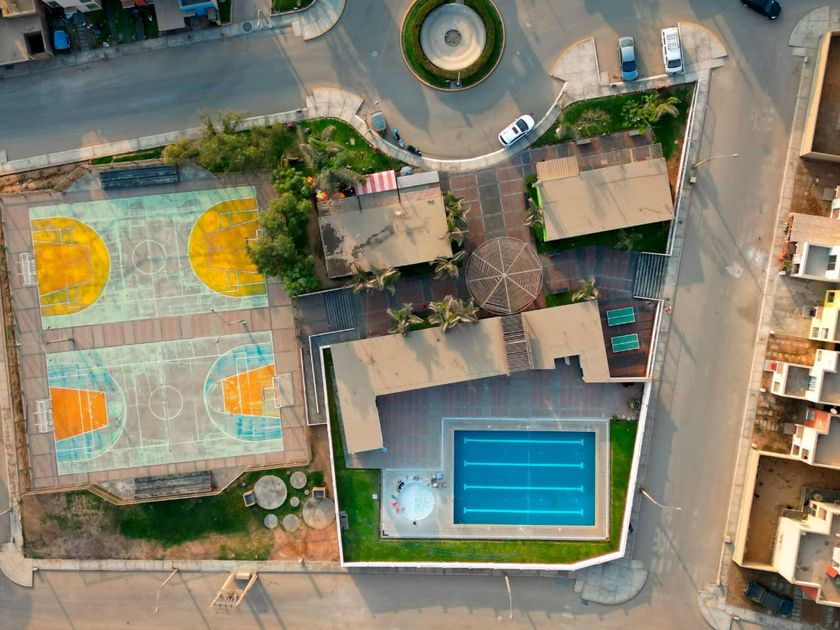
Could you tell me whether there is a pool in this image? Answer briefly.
Yes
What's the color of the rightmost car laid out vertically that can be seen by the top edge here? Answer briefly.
white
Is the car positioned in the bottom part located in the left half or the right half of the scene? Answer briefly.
right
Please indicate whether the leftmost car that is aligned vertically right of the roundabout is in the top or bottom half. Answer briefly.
top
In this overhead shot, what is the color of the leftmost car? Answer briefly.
blue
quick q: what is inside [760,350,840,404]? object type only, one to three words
house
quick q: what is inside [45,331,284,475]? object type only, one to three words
sports court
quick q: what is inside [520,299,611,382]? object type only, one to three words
building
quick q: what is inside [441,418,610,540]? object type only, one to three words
swimming pool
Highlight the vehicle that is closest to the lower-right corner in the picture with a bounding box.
[743,580,797,614]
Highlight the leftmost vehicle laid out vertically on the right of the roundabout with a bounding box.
[618,37,640,82]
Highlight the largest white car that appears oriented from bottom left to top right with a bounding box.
[496,112,536,148]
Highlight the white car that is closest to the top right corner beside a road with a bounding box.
[660,25,684,76]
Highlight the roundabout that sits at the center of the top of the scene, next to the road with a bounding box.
[400,0,505,92]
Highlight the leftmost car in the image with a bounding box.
[54,28,74,58]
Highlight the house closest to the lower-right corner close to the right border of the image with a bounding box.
[775,502,840,607]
